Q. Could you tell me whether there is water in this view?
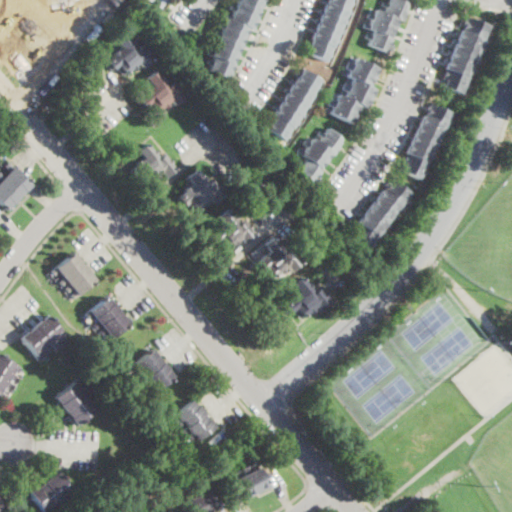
No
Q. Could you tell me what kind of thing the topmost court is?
tennis court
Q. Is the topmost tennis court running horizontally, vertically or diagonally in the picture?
diagonally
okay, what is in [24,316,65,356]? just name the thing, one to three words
house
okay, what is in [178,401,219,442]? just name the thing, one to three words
house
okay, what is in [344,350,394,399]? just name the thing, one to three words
tennis court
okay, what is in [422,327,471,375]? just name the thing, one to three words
tennis court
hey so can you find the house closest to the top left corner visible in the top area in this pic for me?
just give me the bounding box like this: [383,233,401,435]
[112,43,144,74]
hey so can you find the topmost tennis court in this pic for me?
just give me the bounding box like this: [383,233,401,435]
[402,302,452,350]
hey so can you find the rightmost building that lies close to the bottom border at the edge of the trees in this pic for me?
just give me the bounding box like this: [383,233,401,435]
[242,466,274,500]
